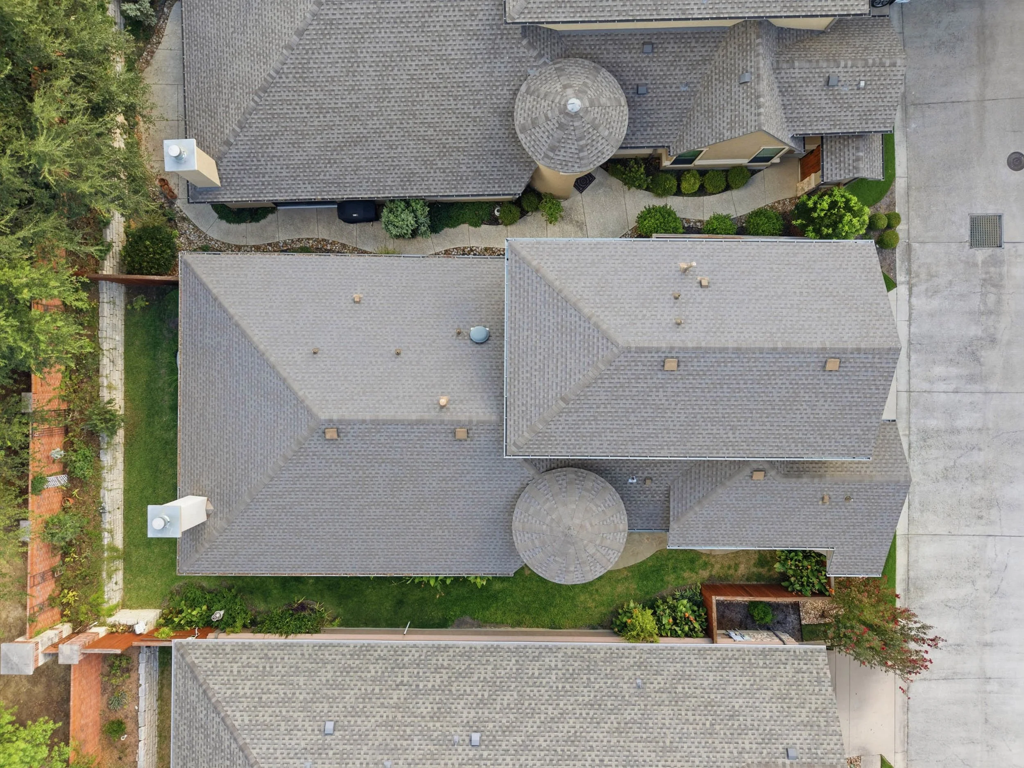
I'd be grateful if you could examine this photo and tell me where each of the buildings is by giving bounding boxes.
[171,623,848,768]
[148,237,911,583]
[163,0,907,211]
